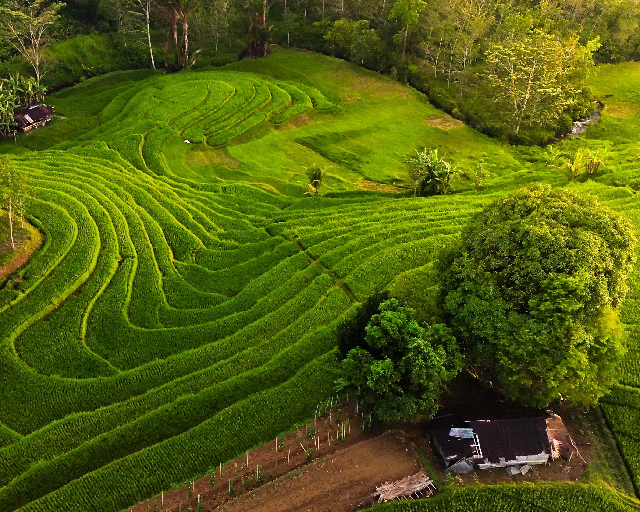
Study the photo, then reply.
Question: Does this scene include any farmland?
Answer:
Yes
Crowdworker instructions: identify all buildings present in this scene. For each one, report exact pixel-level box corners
[15,104,55,138]
[424,406,575,478]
